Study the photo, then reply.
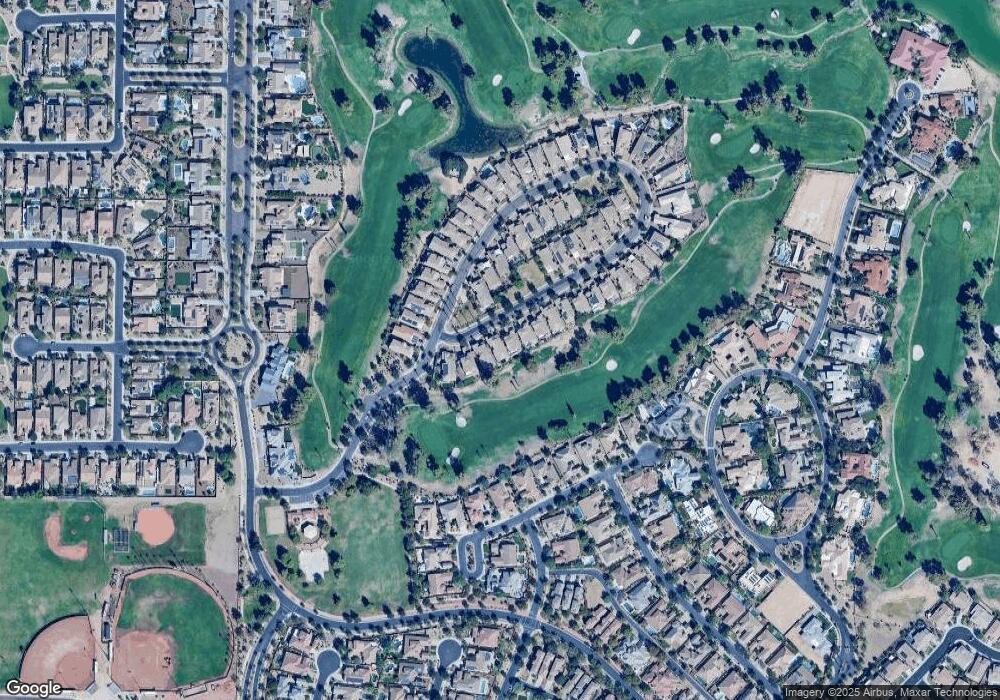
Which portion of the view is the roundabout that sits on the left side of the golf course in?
left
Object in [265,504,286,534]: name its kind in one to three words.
sports court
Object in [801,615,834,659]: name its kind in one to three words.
house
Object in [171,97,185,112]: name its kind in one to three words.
swimming pool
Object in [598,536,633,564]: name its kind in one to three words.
house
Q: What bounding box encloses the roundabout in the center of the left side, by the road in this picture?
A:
[210,323,265,376]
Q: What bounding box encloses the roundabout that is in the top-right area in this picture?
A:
[892,77,926,111]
